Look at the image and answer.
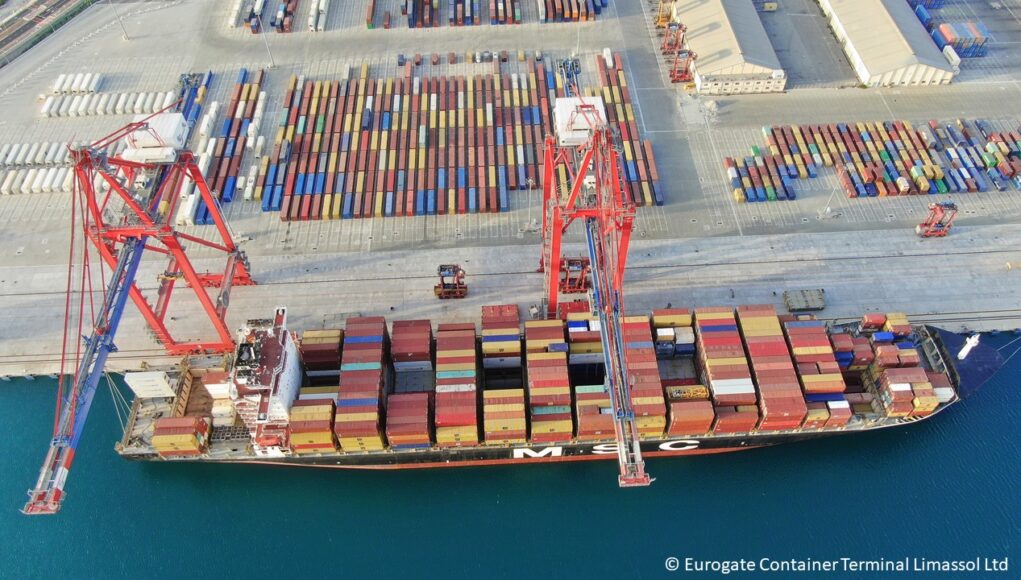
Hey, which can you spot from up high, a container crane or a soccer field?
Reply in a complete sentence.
It is a container crane that can be seen here.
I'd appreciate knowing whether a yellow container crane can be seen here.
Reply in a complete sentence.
No, I can't see a single yellow container crane in this photo.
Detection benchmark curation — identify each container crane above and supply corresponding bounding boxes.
[533,95,651,480]
[28,109,262,509]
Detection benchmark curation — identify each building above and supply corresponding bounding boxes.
[674,0,788,96]
[822,0,955,87]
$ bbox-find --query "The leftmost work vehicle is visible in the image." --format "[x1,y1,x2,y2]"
[178,70,199,98]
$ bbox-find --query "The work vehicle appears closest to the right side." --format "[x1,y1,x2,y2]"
[918,201,964,236]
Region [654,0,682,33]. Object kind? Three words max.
work vehicle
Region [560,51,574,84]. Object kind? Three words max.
vehicle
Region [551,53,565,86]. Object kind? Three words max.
vehicle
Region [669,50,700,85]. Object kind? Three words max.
work vehicle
